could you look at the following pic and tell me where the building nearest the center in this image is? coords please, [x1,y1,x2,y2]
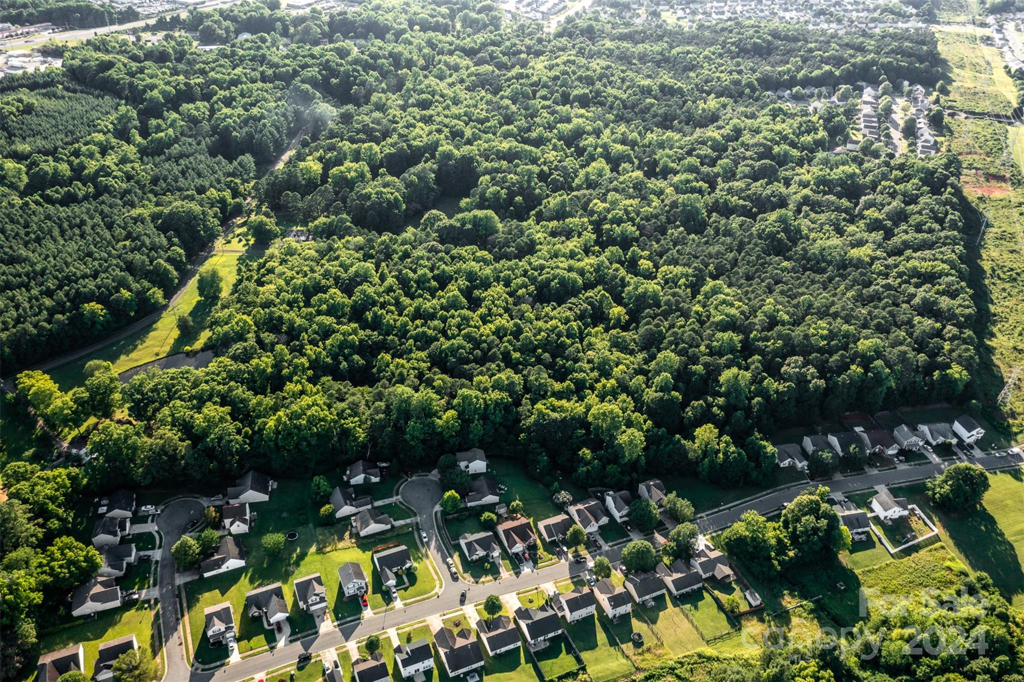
[456,448,488,474]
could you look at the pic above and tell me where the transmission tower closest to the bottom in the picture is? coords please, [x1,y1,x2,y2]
[995,365,1024,407]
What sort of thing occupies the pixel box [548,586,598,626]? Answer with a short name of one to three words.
house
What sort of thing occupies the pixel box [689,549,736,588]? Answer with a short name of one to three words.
house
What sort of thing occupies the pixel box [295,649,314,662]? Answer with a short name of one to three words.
vehicle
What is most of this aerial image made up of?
trees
